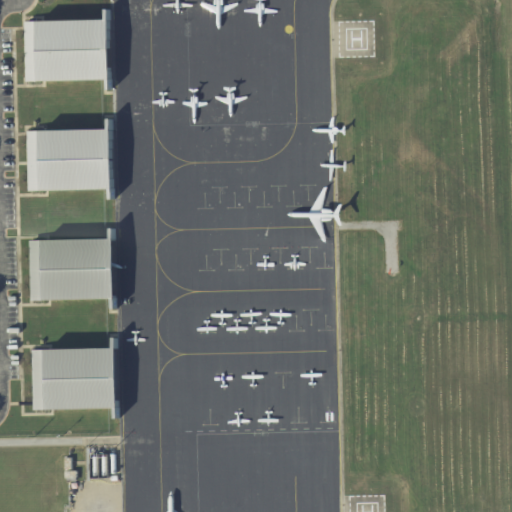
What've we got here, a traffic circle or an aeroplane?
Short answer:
aeroplane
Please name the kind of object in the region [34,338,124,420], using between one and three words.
hangar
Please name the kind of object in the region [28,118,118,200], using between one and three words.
hangar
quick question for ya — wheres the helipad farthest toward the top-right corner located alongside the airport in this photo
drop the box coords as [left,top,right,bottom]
[336,20,376,58]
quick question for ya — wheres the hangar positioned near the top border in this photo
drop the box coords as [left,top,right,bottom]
[24,8,115,90]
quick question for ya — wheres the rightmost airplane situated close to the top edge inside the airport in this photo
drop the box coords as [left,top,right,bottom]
[244,0,277,28]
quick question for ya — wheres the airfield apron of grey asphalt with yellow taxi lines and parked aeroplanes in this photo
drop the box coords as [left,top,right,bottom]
[112,0,346,512]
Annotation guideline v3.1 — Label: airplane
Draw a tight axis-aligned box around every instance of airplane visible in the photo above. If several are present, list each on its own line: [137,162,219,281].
[215,86,248,116]
[227,318,248,334]
[126,330,146,346]
[320,150,346,182]
[258,410,280,427]
[288,187,342,243]
[301,370,323,386]
[314,117,344,144]
[257,256,276,270]
[242,372,264,387]
[228,411,250,428]
[152,92,175,108]
[163,0,194,14]
[256,318,278,334]
[199,0,237,30]
[197,318,218,334]
[241,310,262,324]
[182,88,208,124]
[244,0,277,28]
[284,254,307,270]
[212,310,234,326]
[214,372,232,388]
[270,310,292,326]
